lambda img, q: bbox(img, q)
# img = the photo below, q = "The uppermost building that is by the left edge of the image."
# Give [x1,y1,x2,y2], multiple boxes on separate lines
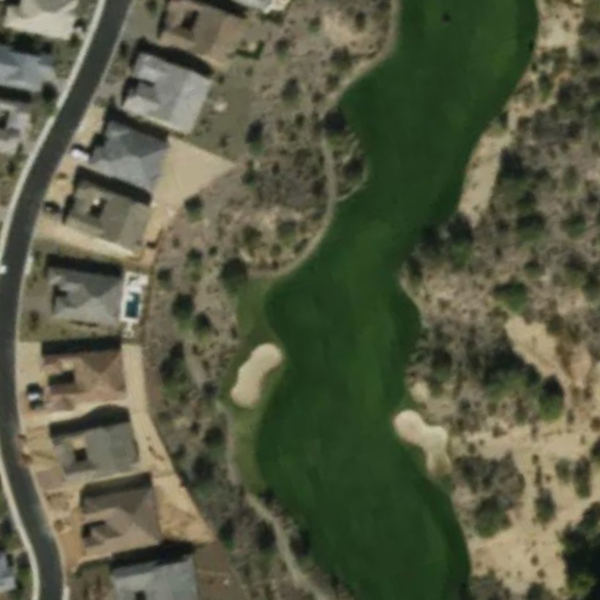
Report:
[5,0,79,39]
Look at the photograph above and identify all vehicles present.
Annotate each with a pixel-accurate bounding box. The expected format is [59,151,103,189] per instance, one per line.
[43,205,62,215]
[73,25,85,35]
[70,149,91,162]
[31,390,40,409]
